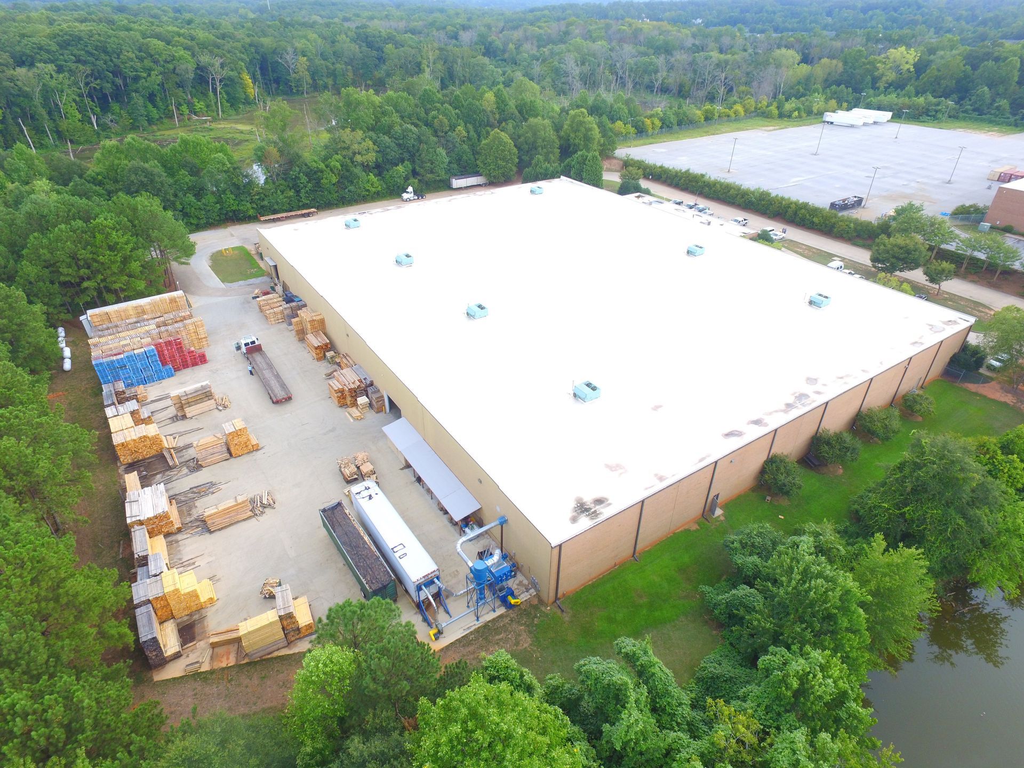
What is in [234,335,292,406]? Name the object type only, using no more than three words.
truck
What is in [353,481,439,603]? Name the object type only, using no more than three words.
trailer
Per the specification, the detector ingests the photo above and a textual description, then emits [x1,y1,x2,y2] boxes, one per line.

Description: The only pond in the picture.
[882,499,1024,768]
